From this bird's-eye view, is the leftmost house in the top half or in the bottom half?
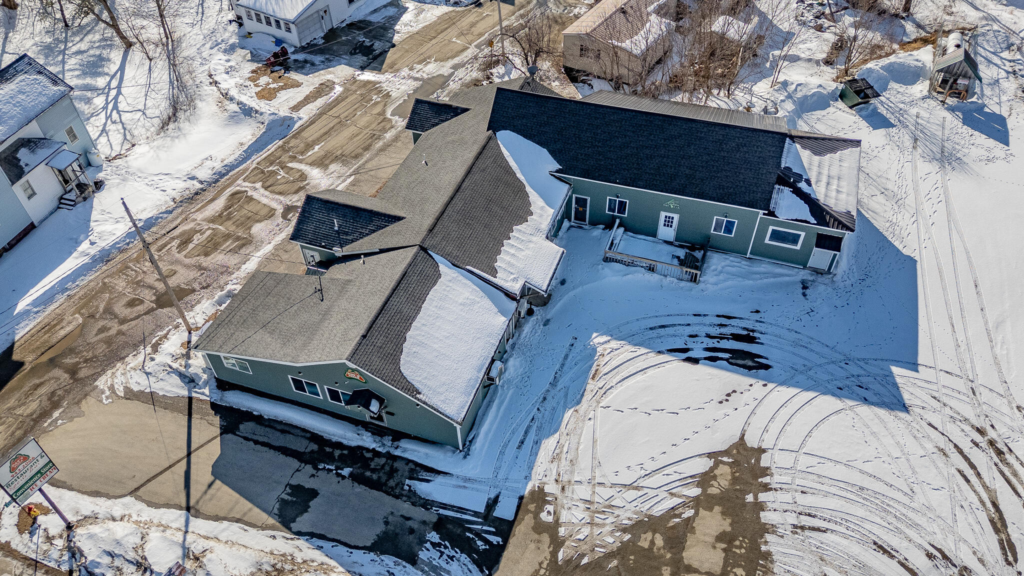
top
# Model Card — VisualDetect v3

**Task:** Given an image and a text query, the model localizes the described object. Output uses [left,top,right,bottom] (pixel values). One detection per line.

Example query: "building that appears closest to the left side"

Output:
[0,52,98,253]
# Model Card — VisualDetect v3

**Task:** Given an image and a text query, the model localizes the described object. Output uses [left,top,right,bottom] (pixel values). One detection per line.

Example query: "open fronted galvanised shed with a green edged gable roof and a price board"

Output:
[939,49,986,95]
